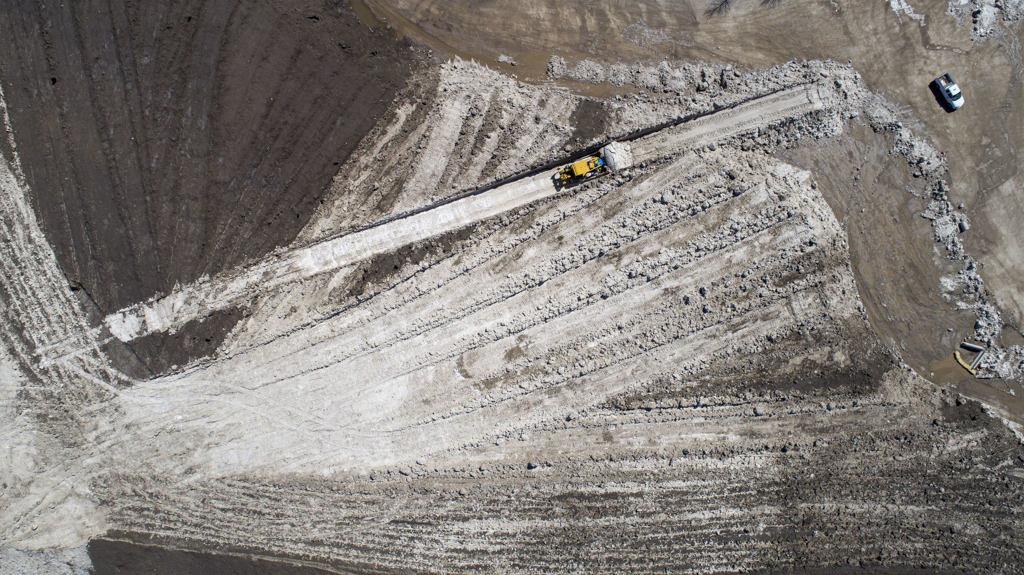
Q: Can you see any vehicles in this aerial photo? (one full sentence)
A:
Yes, this view includes a vehicle.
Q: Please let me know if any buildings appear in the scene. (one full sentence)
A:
No, there appears to be no building in this shot.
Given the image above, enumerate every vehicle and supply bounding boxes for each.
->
[933,74,963,112]
[556,148,611,185]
